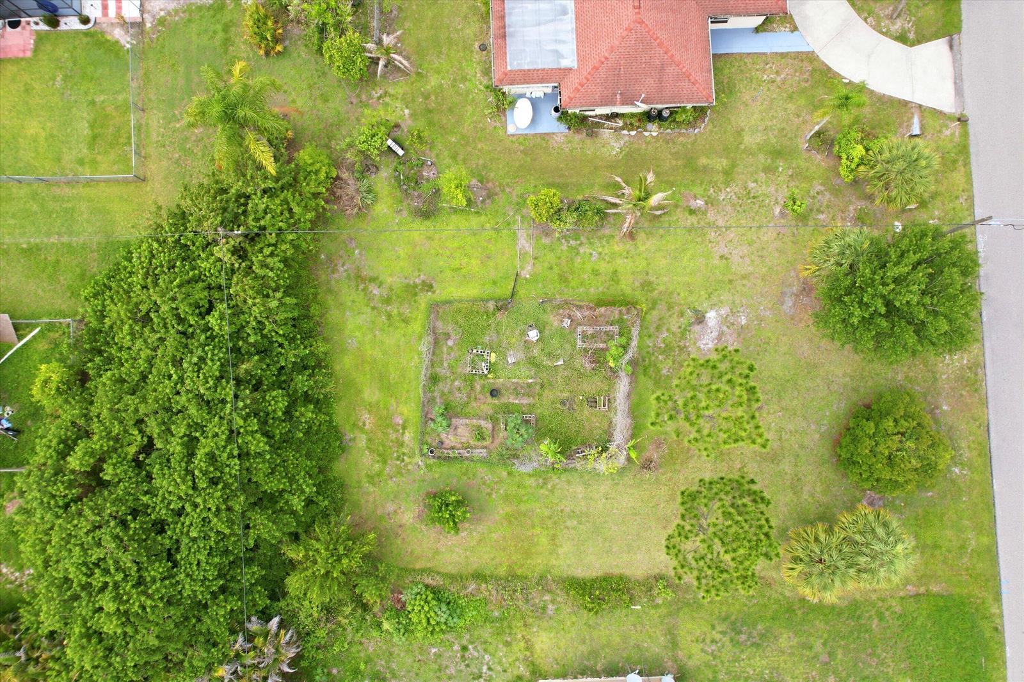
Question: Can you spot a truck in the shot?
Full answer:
No, the picture doesn't show any truck.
